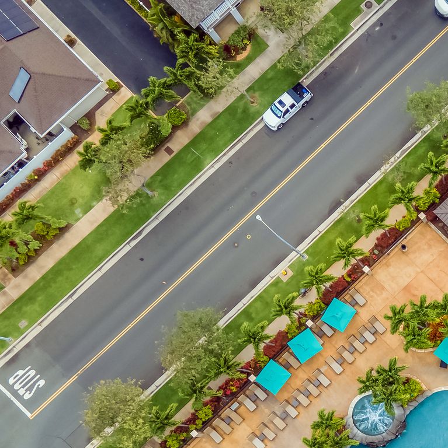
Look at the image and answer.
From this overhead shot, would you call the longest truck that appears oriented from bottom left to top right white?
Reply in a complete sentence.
Yes, white is the color of the longest truck that appears oriented from bottom left to top right.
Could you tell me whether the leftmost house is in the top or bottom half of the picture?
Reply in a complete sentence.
It is in the top half that the leftmost house appears.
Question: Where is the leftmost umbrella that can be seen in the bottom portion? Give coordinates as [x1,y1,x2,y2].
[255,359,292,395]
